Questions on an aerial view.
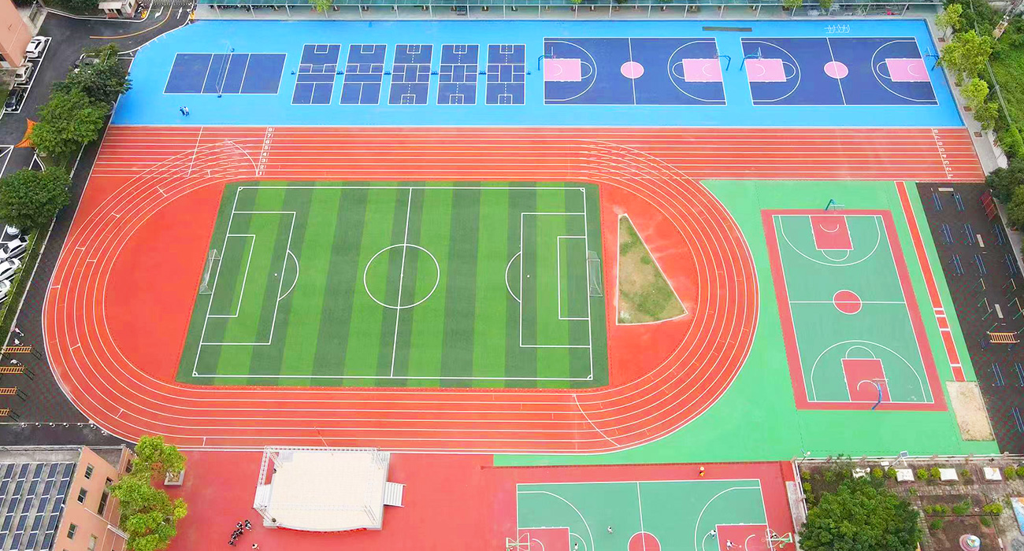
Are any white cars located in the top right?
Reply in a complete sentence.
No, the scene shows no white car in the top right.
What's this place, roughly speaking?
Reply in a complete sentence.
What you see here is a sports ground.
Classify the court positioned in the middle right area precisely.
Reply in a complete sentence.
I'd identify the court positioned in the middle right area as a basketball court.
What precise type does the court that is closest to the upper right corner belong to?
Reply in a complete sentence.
I'd say the court that is closest to the upper right corner is a basketball court.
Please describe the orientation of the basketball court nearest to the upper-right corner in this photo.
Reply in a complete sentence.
Seen from above, the basketball court nearest to the upper-right corner lies horizontally.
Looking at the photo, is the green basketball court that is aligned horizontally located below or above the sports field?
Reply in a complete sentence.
The green basketball court that is aligned horizontally is located below the sports field in this view.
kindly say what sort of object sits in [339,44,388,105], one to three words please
sports court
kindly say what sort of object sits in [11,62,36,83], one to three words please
car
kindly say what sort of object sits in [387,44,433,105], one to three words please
sports court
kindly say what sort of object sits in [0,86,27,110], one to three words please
car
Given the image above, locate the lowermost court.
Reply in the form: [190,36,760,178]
[517,479,772,551]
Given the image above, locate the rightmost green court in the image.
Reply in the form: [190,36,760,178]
[761,209,948,412]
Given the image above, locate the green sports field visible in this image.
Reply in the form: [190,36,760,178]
[174,182,609,386]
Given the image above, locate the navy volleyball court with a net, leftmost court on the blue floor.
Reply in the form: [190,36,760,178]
[163,53,287,94]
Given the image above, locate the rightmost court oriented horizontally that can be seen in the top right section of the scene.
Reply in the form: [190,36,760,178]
[741,37,939,105]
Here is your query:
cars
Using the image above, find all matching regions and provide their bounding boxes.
[0,276,16,296]
[22,36,48,58]
[0,86,27,110]
[11,62,36,83]
[0,217,29,242]
[0,233,32,261]
[0,255,25,278]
